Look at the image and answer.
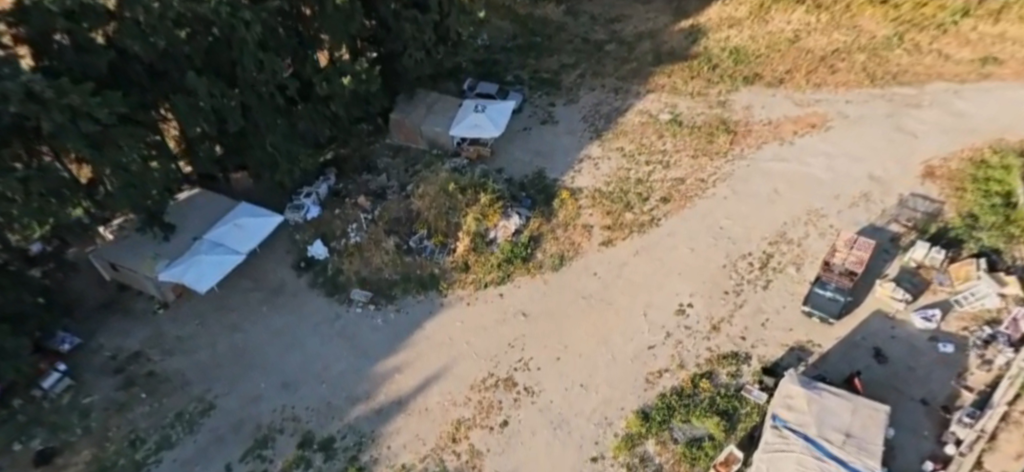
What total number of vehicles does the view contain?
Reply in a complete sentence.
In total, 2 vehicles can be seen.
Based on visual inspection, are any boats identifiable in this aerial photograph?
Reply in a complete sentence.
No, there isn't any boat down there.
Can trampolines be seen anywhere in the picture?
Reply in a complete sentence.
No, the picture doesn't show any trampoline.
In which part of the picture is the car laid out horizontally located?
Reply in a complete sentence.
The car laid out horizontally appears toward the top of the photo.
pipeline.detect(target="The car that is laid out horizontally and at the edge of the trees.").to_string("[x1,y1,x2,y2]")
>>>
[458,79,530,116]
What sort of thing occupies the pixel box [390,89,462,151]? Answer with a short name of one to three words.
shed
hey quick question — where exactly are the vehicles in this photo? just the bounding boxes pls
[458,79,530,116]
[800,227,871,320]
